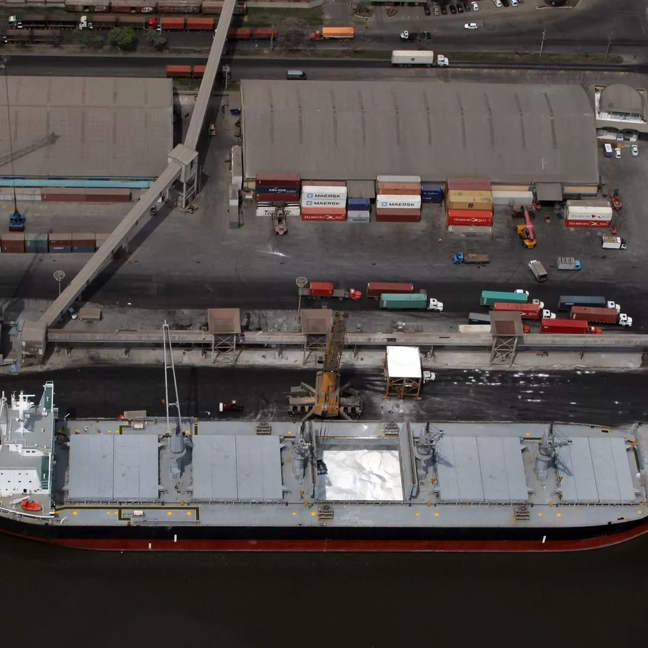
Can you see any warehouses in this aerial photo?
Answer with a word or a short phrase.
Yes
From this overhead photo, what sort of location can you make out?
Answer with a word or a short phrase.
port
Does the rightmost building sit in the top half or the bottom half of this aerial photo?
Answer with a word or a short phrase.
top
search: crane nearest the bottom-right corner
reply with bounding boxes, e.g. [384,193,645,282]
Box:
[531,422,574,490]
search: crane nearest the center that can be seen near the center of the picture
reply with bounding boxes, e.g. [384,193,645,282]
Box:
[292,314,361,421]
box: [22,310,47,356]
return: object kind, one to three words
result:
building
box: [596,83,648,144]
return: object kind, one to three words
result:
building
